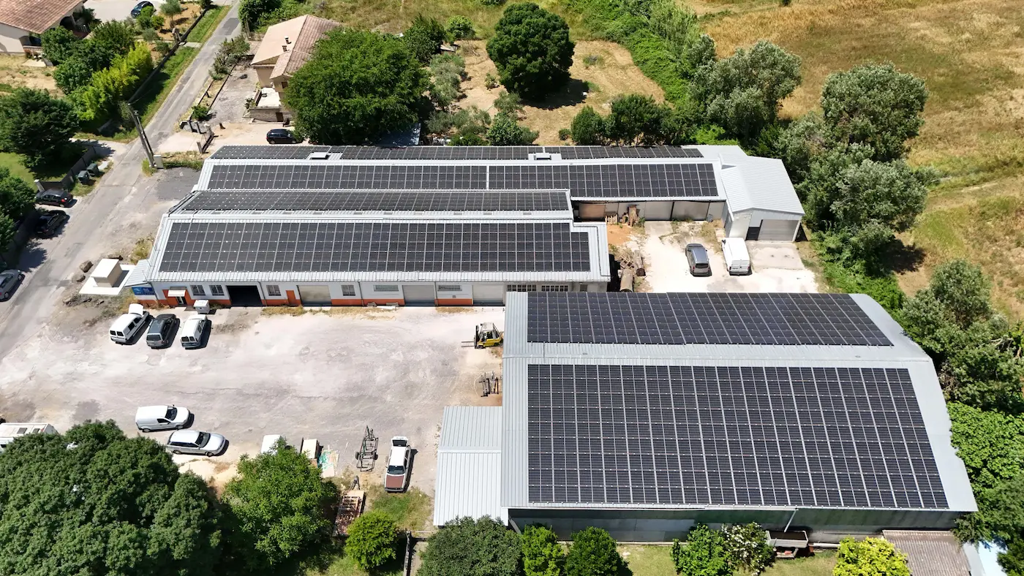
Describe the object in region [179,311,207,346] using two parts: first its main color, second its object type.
white van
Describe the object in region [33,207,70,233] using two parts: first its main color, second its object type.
black car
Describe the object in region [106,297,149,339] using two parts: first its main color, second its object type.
white van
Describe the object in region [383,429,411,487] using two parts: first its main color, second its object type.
white car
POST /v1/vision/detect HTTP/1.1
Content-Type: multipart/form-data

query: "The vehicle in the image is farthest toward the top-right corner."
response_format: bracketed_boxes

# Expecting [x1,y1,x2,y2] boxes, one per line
[723,237,750,272]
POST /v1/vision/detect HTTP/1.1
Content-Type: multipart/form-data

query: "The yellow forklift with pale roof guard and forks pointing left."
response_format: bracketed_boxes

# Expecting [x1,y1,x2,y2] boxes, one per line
[465,320,503,345]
